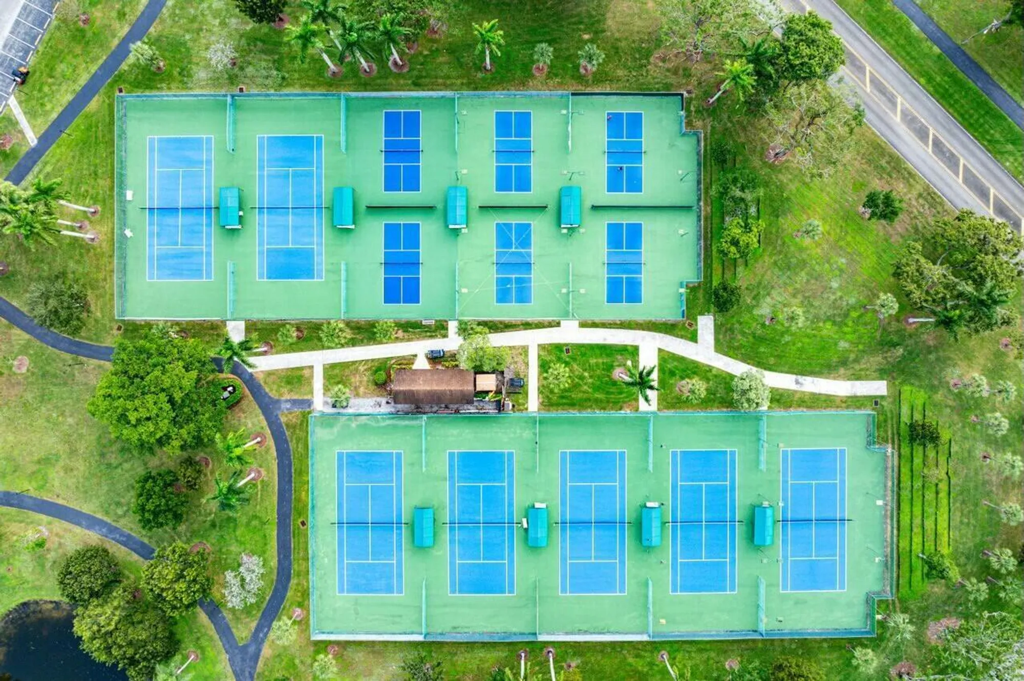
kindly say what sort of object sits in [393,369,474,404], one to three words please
building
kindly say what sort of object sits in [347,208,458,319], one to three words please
sports court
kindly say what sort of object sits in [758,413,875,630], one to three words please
tennis court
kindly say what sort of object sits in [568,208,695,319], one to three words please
sports court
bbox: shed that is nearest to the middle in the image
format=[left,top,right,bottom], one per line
[476,374,496,391]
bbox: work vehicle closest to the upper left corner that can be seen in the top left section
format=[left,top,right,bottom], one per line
[11,66,32,84]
